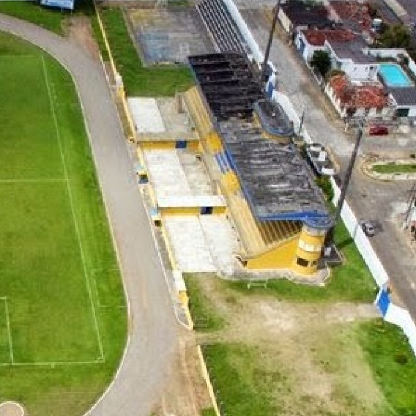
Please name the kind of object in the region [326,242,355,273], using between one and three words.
shed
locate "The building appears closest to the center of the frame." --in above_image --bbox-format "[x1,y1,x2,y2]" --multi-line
[158,188,230,213]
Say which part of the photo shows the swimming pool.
top right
